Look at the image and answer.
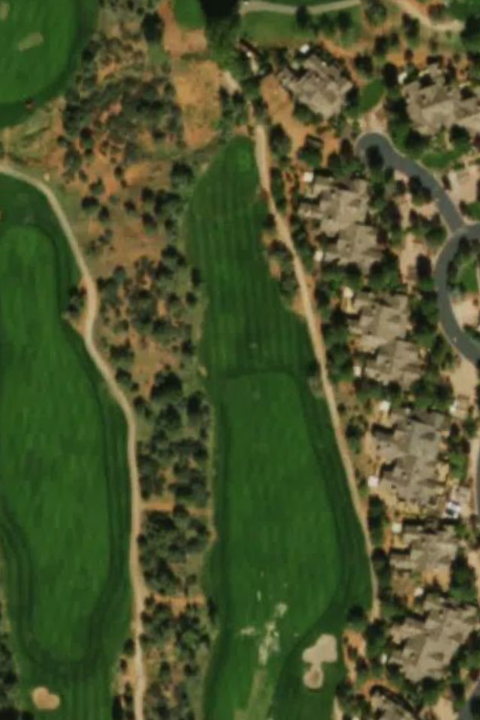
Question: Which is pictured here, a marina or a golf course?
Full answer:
It's a golf course.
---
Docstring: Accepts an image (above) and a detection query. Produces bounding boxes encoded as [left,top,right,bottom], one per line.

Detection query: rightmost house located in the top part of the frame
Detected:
[399,60,480,136]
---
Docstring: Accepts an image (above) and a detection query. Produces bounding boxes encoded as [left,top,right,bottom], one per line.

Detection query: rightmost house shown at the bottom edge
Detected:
[397,596,480,687]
